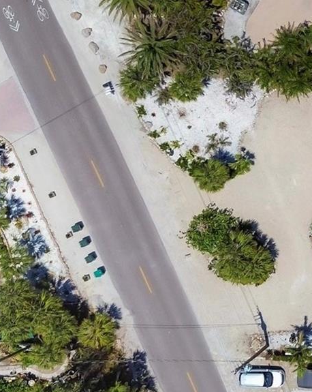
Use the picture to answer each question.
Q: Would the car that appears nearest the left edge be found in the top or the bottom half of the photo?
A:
bottom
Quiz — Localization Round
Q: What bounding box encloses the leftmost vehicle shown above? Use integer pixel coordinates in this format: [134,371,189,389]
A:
[240,369,286,391]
